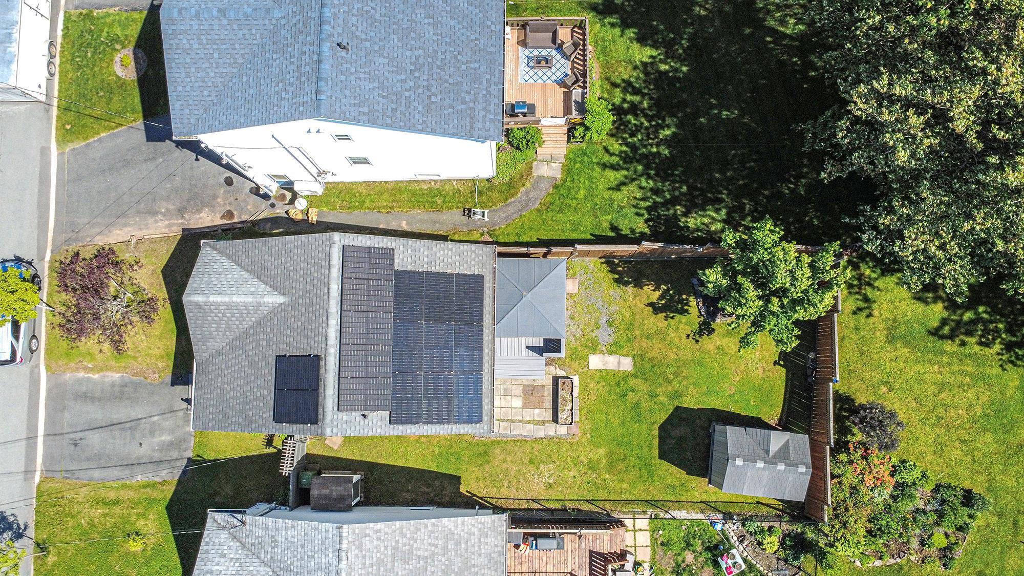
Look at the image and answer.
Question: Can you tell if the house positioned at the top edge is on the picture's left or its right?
left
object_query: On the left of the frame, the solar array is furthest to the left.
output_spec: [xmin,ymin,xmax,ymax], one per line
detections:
[274,355,322,424]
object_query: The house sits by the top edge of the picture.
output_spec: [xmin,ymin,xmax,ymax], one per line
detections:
[154,0,508,192]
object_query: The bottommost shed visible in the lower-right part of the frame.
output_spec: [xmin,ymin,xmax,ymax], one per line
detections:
[700,423,812,501]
